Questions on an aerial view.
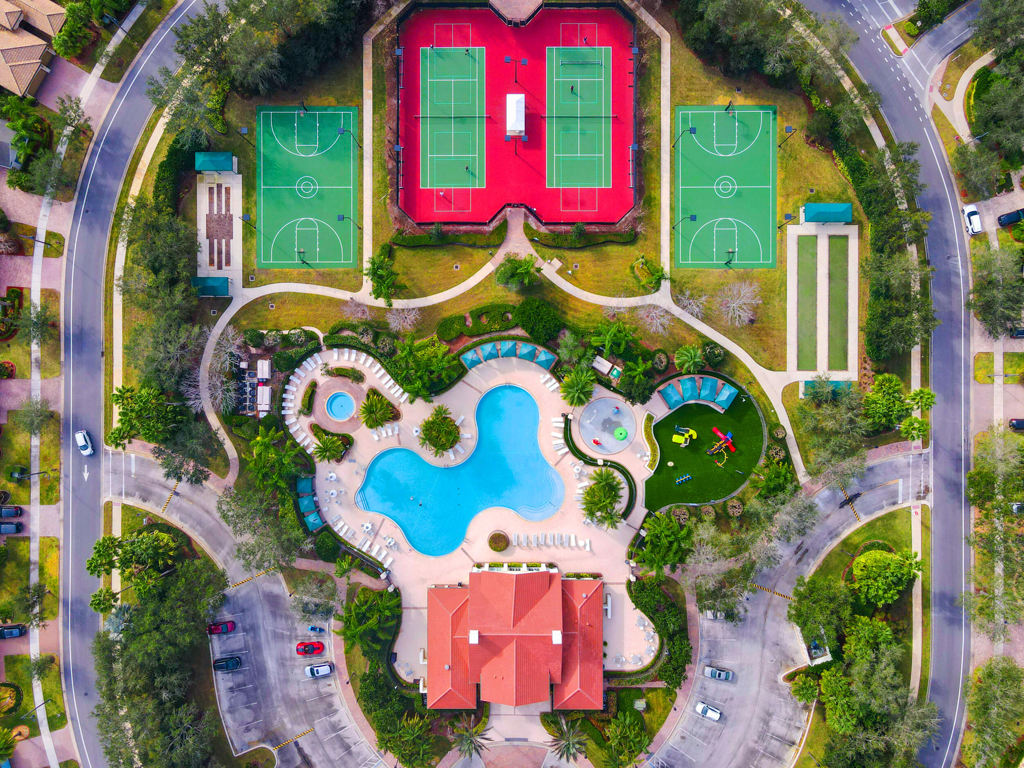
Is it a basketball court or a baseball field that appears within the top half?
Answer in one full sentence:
The one visible within the top half is a basketball court.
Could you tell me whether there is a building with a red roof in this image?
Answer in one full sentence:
Yes, I can see a building with a red roof in this picture.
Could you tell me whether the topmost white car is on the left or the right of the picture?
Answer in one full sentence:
The topmost white car appears in the right half of the scene.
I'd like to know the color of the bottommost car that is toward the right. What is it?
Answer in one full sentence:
The color of the bottommost car that is toward the right is white.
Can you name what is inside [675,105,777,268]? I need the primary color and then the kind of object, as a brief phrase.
green basketball court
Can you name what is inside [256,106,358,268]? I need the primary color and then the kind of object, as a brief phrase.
green basketball court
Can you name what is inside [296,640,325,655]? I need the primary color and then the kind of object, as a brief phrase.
red car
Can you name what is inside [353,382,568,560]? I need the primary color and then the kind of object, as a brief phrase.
blue swimming pool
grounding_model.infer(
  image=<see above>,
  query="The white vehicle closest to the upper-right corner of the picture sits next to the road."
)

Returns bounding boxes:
[960,206,980,235]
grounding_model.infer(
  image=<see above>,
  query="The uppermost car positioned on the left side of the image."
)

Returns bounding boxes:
[77,430,96,456]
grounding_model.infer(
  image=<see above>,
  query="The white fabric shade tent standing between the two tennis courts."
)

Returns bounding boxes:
[507,94,525,136]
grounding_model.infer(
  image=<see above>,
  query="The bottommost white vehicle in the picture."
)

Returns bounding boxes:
[693,700,722,721]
